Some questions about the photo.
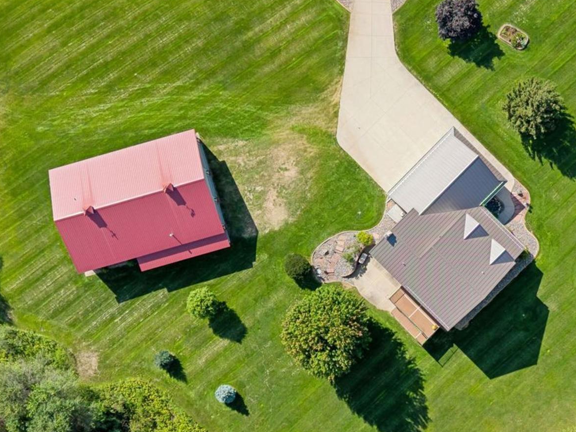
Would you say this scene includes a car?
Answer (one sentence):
No, the scene contains no car.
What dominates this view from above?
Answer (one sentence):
Most of the picture is covered by grass.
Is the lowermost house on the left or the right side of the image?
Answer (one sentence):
The lowermost house sits on the right side.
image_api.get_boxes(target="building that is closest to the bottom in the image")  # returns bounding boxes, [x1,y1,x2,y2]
[369,202,523,332]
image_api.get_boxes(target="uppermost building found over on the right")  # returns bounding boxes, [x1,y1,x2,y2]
[386,127,508,214]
